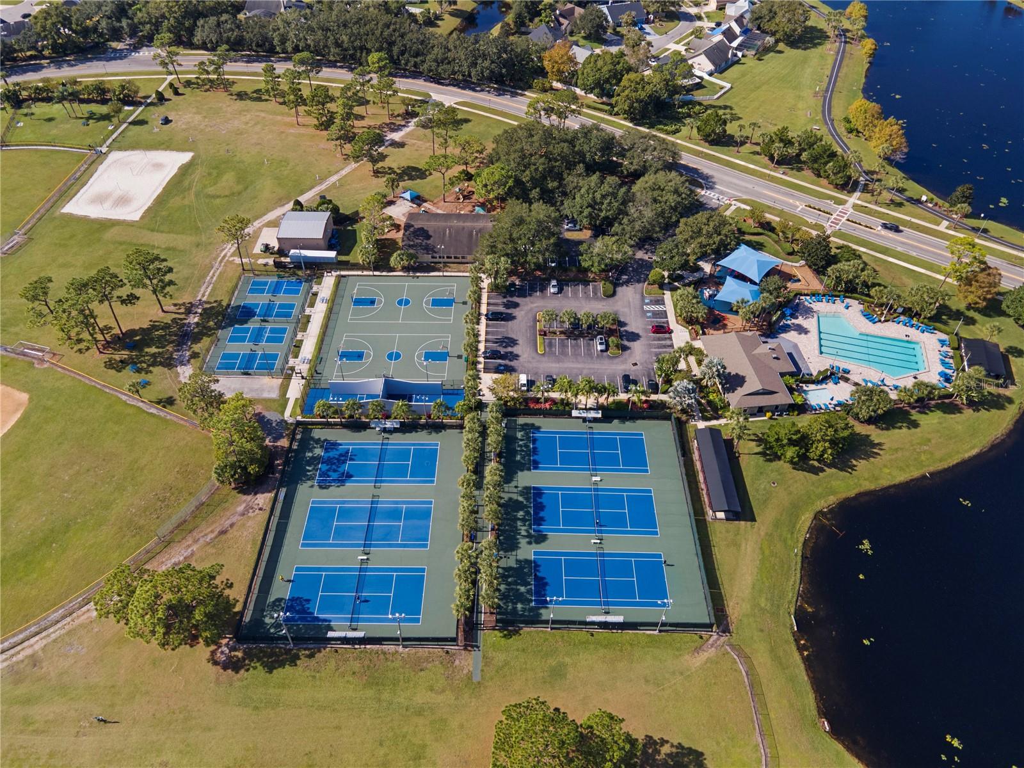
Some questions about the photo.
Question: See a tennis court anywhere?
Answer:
Yes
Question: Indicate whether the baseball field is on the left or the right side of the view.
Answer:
left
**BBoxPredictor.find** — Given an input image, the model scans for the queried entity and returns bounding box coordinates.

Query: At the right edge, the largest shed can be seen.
[960,336,1005,384]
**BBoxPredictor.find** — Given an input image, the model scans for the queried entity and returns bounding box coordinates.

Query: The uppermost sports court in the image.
[61,151,194,221]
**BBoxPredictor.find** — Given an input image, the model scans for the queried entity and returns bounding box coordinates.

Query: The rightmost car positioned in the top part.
[881,218,900,230]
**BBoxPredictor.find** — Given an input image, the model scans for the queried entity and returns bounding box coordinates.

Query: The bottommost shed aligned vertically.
[692,427,740,519]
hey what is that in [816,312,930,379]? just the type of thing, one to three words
swimming pool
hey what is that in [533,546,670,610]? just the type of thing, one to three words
tennis court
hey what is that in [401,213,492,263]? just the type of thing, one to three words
building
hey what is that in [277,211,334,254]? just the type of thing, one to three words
shed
